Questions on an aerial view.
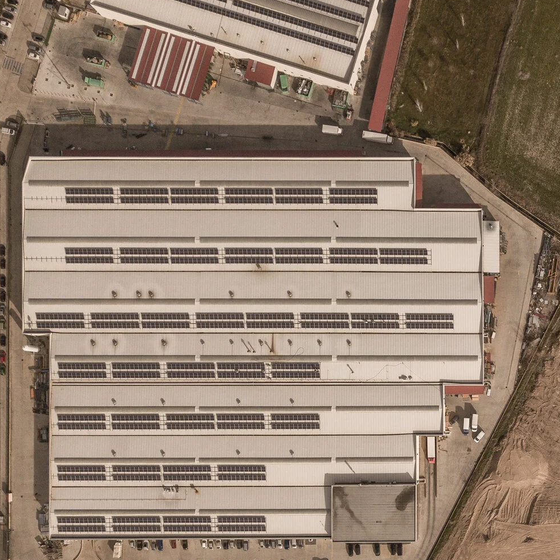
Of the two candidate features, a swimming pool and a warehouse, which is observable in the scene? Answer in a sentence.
I can see a warehouse in this picture.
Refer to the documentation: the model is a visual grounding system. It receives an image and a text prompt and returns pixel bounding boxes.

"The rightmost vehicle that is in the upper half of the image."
[361,128,392,143]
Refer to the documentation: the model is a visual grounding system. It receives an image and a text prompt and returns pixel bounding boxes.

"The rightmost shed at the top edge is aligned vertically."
[369,0,412,132]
